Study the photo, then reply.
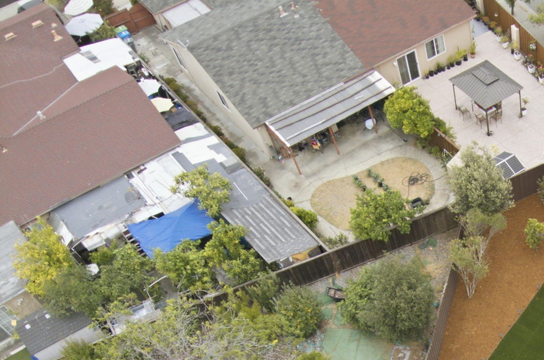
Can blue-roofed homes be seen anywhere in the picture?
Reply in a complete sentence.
No, there appears to be no blue-roofed home in this shot.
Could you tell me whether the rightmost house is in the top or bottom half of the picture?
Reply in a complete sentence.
Seen from above, the rightmost house lies in the top half of the view.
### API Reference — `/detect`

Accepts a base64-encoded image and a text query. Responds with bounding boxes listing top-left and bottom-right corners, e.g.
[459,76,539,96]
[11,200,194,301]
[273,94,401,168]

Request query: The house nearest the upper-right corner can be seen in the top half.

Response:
[142,0,476,175]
